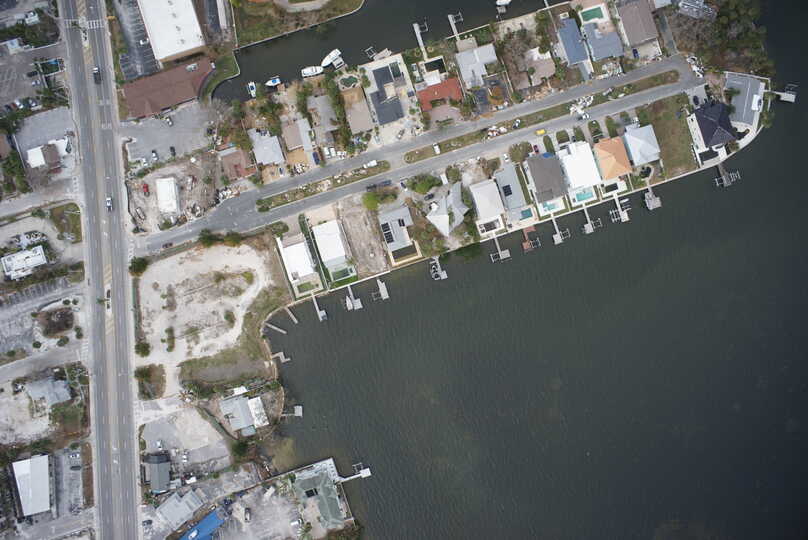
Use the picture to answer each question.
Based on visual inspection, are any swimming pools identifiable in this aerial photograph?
Yes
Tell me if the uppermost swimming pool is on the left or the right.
right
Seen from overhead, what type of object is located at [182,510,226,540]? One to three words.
building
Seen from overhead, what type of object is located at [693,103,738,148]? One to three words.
house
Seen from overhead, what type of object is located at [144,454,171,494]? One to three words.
building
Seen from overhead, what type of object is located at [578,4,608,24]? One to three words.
swimming pool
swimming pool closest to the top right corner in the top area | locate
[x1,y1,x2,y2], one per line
[698,149,720,162]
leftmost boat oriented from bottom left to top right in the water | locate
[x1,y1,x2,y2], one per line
[323,48,342,66]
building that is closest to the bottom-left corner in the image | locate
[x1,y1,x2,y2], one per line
[12,453,54,516]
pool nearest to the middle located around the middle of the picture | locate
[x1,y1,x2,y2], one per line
[331,267,354,281]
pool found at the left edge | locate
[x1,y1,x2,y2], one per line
[38,58,61,76]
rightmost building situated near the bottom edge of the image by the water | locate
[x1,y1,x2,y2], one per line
[294,474,344,528]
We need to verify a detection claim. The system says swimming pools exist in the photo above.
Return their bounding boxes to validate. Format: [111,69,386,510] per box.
[342,76,358,87]
[541,201,560,212]
[698,149,720,162]
[38,58,61,76]
[389,61,403,78]
[297,281,316,294]
[604,182,619,193]
[331,267,354,281]
[640,167,653,178]
[520,208,533,220]
[575,190,595,201]
[481,217,503,233]
[578,4,608,24]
